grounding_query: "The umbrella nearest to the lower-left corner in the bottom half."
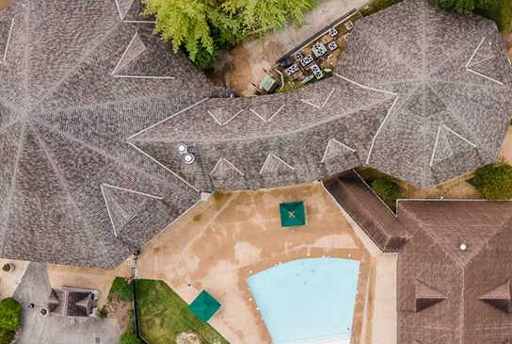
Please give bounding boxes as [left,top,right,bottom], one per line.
[188,289,222,323]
